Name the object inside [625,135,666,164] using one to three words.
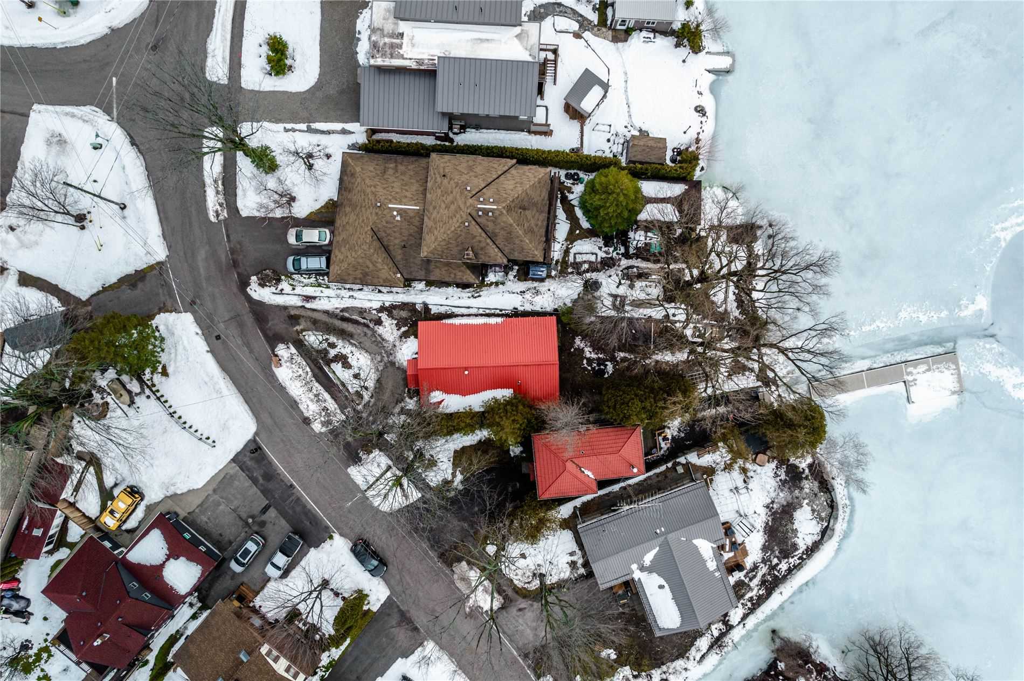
shed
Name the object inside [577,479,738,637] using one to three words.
house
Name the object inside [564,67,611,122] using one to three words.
building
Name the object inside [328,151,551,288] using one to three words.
house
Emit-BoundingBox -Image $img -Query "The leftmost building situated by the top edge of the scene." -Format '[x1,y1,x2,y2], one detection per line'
[360,0,541,135]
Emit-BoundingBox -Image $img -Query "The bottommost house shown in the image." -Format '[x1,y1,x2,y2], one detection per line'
[158,600,323,681]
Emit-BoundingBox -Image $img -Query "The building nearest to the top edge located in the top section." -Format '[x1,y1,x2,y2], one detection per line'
[611,0,676,32]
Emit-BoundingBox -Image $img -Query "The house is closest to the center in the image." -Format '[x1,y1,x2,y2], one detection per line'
[406,316,559,412]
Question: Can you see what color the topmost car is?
white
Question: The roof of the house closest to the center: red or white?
red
